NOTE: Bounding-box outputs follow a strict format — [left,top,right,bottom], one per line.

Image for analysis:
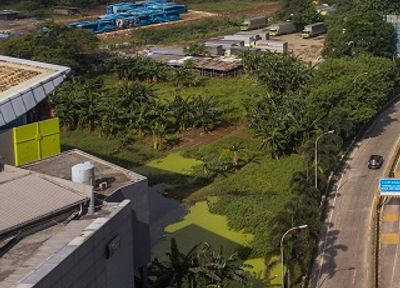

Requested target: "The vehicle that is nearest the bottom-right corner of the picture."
[365,153,382,169]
